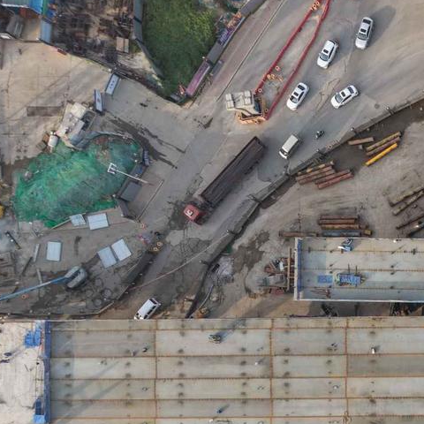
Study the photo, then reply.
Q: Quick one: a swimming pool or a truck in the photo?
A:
truck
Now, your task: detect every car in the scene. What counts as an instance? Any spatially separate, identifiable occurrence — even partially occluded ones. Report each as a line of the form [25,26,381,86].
[356,17,374,50]
[277,130,303,161]
[317,36,339,70]
[135,294,162,319]
[330,83,360,109]
[285,80,310,112]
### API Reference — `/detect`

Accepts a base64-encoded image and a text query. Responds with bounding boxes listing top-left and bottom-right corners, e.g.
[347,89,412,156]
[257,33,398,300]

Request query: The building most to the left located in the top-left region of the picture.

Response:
[0,11,28,41]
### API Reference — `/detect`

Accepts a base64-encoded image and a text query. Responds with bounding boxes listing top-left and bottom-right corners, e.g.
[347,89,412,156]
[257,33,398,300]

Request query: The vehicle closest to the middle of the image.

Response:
[189,134,269,216]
